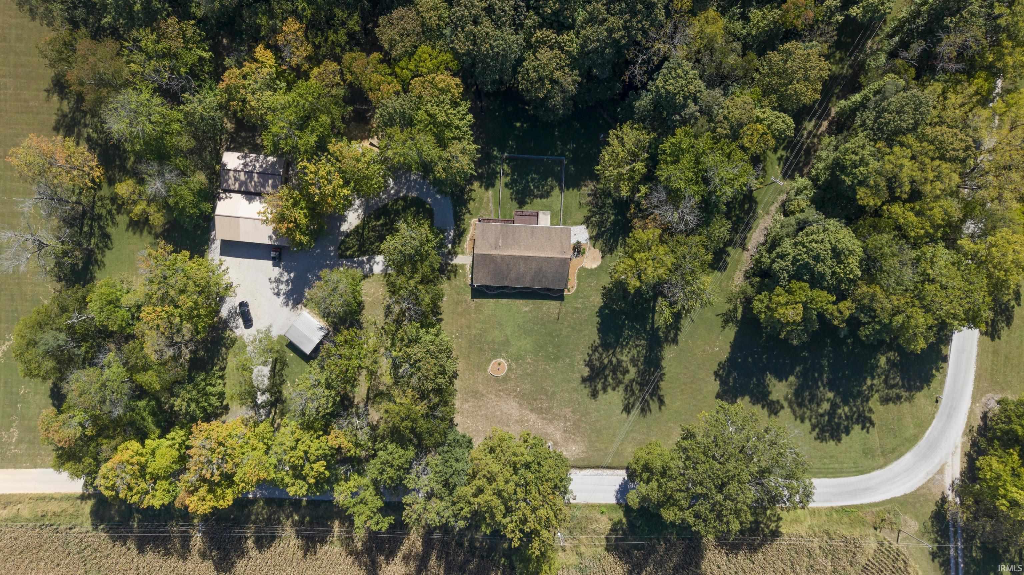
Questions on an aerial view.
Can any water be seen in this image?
No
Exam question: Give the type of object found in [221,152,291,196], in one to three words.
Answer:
barn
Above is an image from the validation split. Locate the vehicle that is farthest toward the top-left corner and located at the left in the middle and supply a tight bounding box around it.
[270,246,282,262]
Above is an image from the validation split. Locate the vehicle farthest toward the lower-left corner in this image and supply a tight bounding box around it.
[237,301,255,330]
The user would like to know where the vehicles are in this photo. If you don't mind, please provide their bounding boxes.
[270,246,282,262]
[237,301,255,330]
